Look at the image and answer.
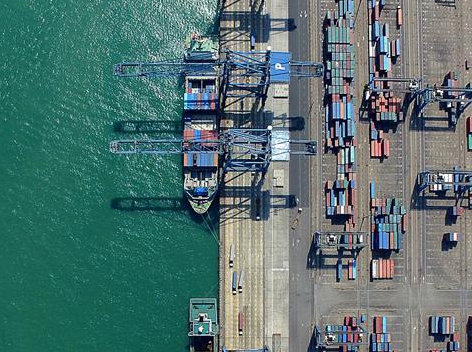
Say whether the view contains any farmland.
No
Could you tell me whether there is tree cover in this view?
No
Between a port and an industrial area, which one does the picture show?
port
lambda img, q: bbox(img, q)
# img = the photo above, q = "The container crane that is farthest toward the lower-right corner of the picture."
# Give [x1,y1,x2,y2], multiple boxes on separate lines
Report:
[312,320,366,343]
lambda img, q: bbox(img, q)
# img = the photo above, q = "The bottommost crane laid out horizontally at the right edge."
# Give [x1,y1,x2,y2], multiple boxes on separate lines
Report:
[416,170,472,191]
